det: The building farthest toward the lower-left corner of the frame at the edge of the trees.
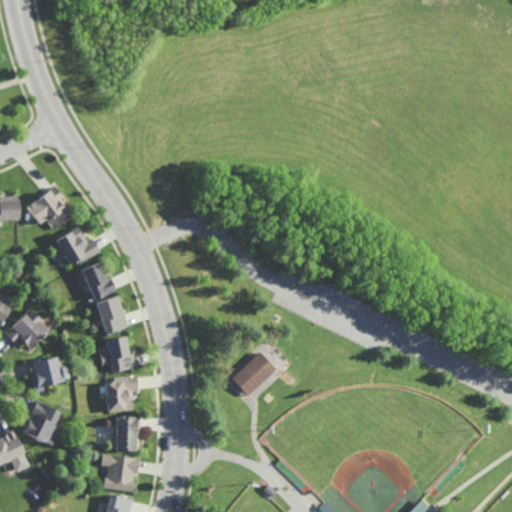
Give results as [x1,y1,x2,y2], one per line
[0,428,33,474]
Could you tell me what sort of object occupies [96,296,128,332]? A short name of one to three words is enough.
house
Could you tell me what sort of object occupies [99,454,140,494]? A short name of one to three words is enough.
house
